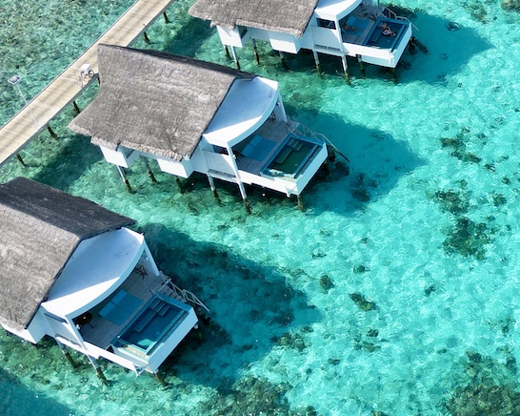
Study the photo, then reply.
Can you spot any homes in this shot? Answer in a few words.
Yes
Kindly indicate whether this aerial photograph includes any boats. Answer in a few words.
No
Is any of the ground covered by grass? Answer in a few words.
No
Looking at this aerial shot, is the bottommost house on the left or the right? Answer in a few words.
left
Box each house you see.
[189,0,427,71]
[0,172,221,378]
[71,40,344,200]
